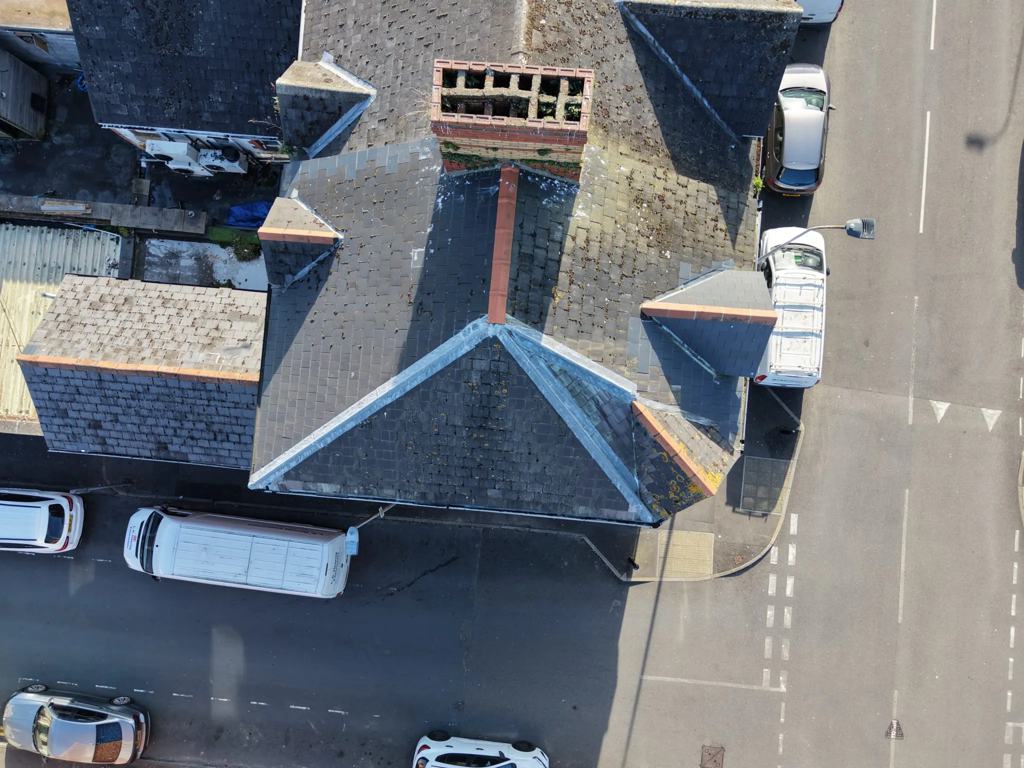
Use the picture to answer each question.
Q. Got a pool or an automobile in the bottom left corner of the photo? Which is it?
automobile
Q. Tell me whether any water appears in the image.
No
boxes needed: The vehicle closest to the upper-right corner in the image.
[799,0,854,26]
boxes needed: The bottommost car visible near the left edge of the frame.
[0,684,156,768]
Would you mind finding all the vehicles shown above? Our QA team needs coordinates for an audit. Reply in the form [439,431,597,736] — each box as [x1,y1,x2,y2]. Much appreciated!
[0,480,86,552]
[751,227,833,390]
[799,0,854,26]
[122,497,351,602]
[0,684,156,768]
[761,65,837,198]
[413,728,551,768]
